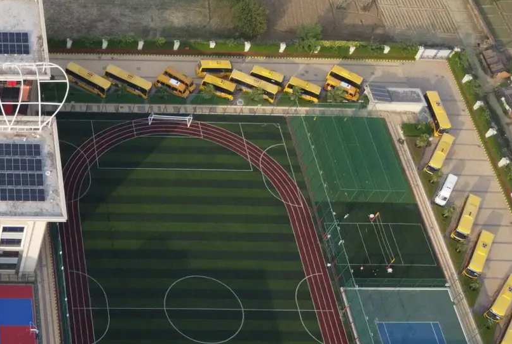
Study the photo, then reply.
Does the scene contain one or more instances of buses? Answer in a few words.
Yes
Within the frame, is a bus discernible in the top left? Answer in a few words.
Yes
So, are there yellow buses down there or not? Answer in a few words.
Yes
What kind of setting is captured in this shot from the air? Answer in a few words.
sports ground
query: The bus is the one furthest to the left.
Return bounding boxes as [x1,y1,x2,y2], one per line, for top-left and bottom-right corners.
[57,60,118,100]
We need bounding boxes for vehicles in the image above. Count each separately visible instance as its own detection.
[457,227,495,284]
[282,75,326,106]
[423,87,454,138]
[57,60,118,100]
[244,64,286,93]
[223,67,285,106]
[477,270,512,329]
[99,62,155,101]
[447,192,482,246]
[154,74,187,100]
[319,63,370,98]
[492,309,512,344]
[164,64,194,94]
[420,131,456,180]
[194,73,242,104]
[189,60,236,77]
[431,175,457,207]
